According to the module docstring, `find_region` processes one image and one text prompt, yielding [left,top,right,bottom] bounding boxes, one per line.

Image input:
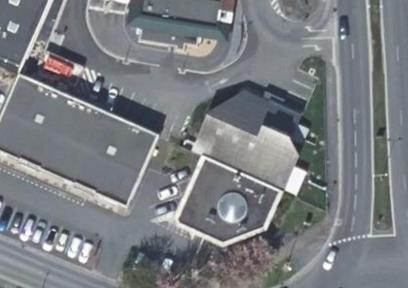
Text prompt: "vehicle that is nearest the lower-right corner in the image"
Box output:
[322,246,338,270]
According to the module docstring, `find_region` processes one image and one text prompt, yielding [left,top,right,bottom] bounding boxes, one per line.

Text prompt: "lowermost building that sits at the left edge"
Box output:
[0,67,160,216]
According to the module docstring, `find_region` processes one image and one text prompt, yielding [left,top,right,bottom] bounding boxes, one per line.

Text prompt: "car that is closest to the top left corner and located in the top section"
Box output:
[92,76,105,98]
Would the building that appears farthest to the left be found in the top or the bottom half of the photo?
top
